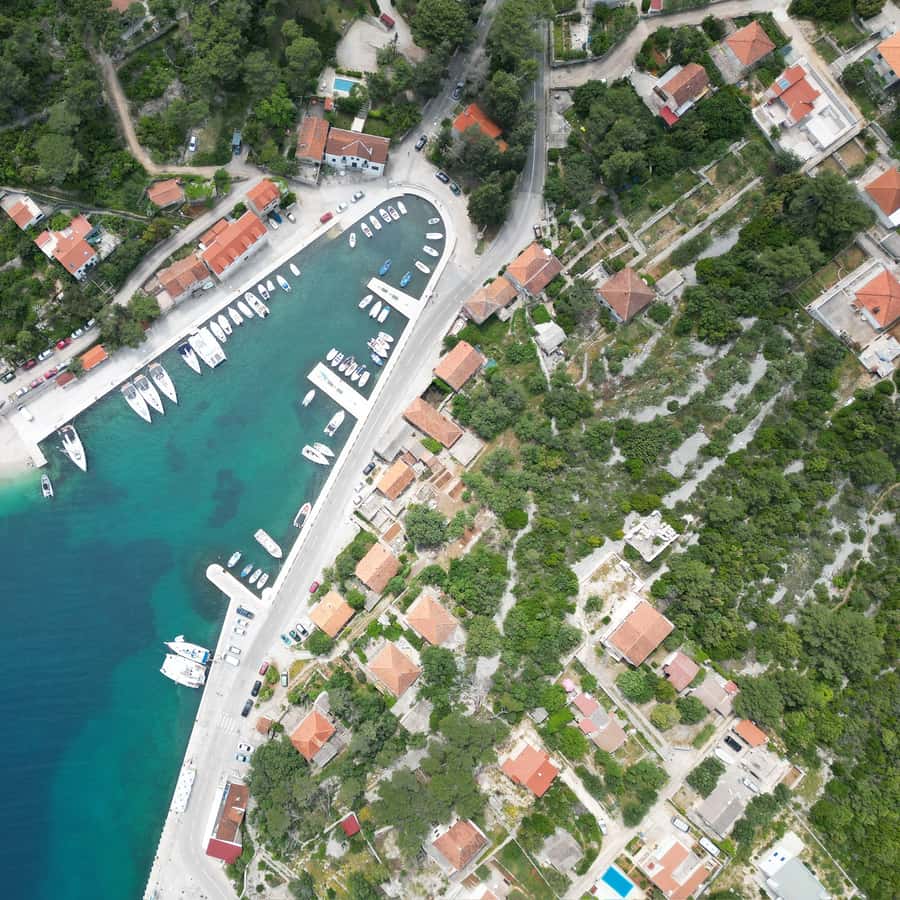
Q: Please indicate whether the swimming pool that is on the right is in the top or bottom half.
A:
bottom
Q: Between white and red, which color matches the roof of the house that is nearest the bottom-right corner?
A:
white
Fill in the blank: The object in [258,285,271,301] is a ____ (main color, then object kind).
white boat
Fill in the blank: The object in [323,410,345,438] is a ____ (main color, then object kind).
white boat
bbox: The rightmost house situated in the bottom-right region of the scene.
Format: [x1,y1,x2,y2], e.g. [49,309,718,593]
[751,824,830,900]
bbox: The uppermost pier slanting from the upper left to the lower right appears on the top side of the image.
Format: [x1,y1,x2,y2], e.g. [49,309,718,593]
[367,278,419,318]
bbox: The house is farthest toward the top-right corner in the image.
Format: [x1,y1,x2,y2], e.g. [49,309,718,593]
[869,30,900,88]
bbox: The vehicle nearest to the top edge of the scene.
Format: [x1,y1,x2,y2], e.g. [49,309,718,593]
[381,11,395,26]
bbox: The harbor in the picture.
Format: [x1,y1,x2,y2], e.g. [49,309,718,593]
[3,150,542,900]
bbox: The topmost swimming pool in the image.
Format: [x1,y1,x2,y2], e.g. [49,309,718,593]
[332,76,354,93]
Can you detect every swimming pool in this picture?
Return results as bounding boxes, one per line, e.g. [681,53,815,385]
[599,863,635,900]
[332,76,354,93]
